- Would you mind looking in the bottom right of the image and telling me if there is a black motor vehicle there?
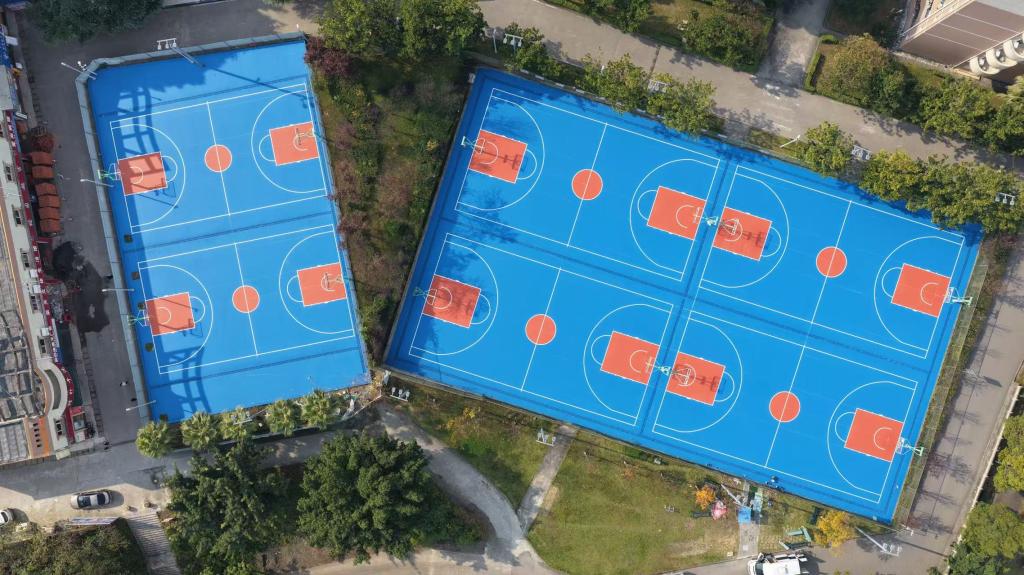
No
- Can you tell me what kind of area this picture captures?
sports ground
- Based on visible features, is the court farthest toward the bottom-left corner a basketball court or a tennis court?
basketball court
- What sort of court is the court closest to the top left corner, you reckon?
basketball court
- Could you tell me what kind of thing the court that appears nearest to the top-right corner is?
basketball court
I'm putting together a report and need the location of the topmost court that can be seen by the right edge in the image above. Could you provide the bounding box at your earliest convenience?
[685,147,985,374]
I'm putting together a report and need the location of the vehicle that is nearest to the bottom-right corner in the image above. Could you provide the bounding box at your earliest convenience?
[751,552,801,575]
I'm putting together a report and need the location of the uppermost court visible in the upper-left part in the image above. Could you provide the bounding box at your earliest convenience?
[89,40,337,251]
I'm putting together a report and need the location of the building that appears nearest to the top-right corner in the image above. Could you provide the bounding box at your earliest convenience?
[904,0,1024,103]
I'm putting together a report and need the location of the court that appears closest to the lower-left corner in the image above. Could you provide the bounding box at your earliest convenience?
[123,209,371,422]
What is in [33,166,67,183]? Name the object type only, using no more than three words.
tent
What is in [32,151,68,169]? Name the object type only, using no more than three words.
tent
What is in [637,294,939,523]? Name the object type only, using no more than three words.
basketball court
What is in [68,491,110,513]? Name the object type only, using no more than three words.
car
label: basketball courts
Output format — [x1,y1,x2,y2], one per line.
[637,294,939,523]
[385,214,682,442]
[89,40,337,251]
[431,67,729,291]
[123,209,371,422]
[685,147,985,374]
